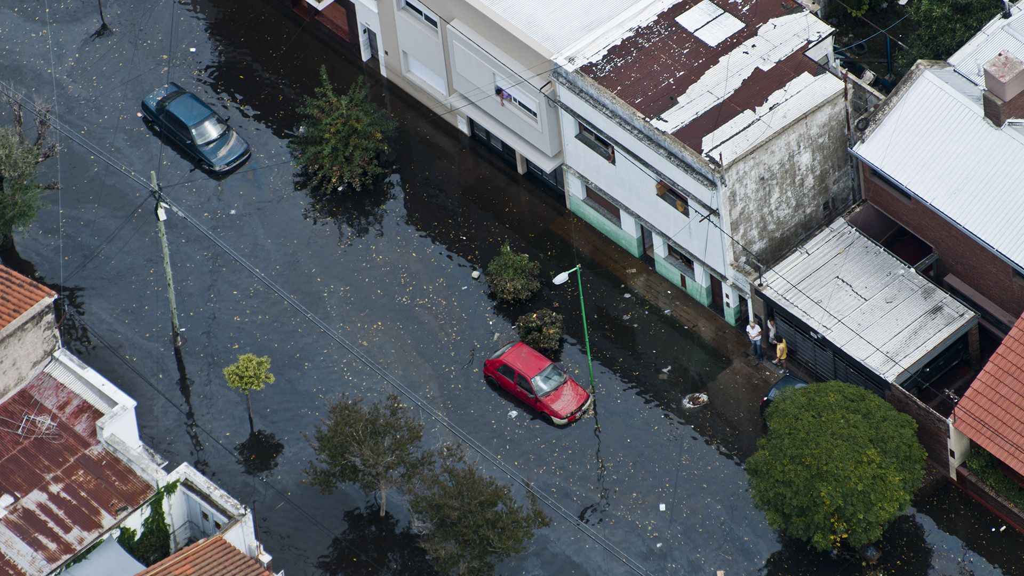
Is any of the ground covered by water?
Yes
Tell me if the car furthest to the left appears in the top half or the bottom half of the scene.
top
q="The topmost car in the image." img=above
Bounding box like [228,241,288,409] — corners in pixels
[141,84,251,173]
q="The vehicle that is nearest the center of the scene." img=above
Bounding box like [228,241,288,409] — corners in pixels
[483,344,592,425]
